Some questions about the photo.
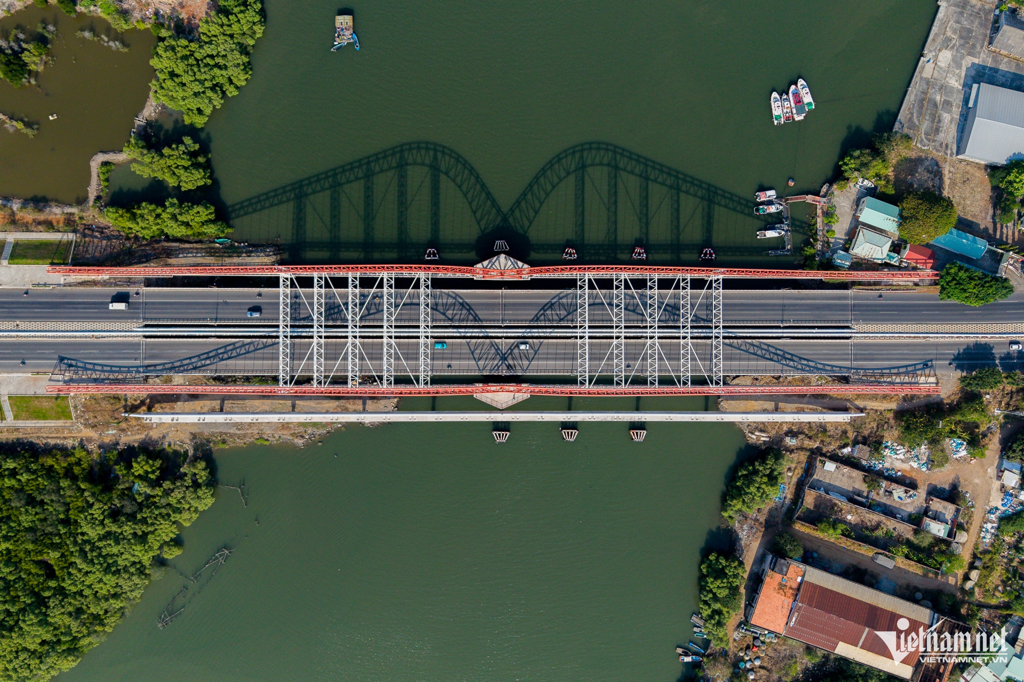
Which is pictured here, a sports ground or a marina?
marina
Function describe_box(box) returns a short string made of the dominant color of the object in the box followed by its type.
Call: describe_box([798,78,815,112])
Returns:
white boat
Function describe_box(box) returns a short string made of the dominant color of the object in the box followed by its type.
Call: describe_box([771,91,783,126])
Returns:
white boat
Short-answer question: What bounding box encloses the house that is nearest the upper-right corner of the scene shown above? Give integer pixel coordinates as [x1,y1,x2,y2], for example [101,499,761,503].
[988,11,1024,61]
